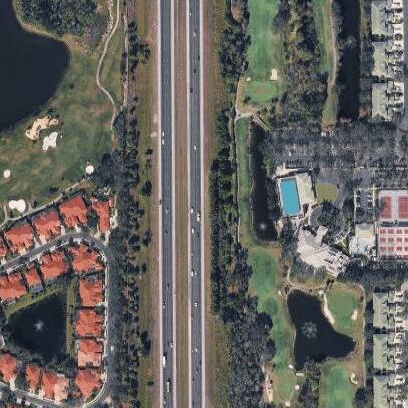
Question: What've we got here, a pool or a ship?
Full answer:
This aerial view contains a pool.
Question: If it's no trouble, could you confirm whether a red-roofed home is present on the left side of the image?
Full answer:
Yes, a red-roofed home shows up on the left side of the image.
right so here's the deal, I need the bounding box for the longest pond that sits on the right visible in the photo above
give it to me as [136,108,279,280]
[250,119,281,242]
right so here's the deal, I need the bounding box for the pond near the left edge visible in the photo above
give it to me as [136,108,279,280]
[6,292,65,362]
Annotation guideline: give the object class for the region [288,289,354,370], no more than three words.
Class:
pond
